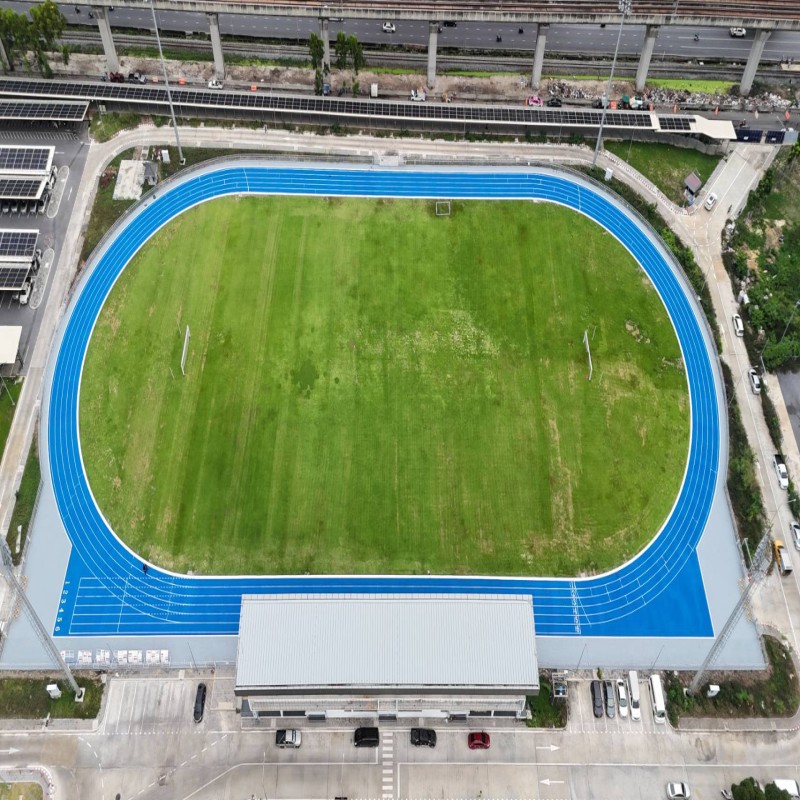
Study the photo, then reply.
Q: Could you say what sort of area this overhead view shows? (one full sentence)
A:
This image shows a sports ground.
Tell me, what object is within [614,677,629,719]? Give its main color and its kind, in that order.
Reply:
white car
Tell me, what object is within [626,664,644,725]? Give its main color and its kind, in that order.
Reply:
white vehicle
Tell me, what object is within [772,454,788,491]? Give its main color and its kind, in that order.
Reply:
white vehicle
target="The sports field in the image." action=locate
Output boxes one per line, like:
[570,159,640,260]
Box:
[78,194,690,577]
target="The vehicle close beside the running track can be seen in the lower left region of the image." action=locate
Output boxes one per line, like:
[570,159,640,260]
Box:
[192,681,206,725]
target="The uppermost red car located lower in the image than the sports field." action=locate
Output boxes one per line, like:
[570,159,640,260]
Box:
[467,731,491,751]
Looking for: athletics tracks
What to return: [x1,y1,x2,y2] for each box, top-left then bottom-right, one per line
[0,159,767,670]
